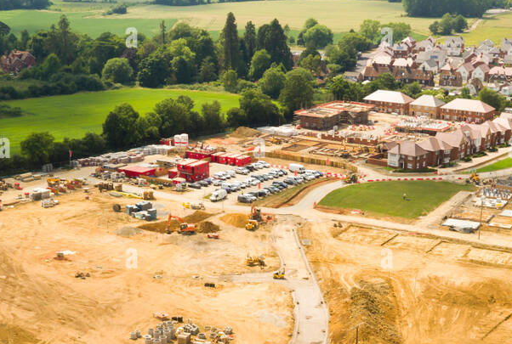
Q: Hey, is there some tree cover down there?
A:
Yes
